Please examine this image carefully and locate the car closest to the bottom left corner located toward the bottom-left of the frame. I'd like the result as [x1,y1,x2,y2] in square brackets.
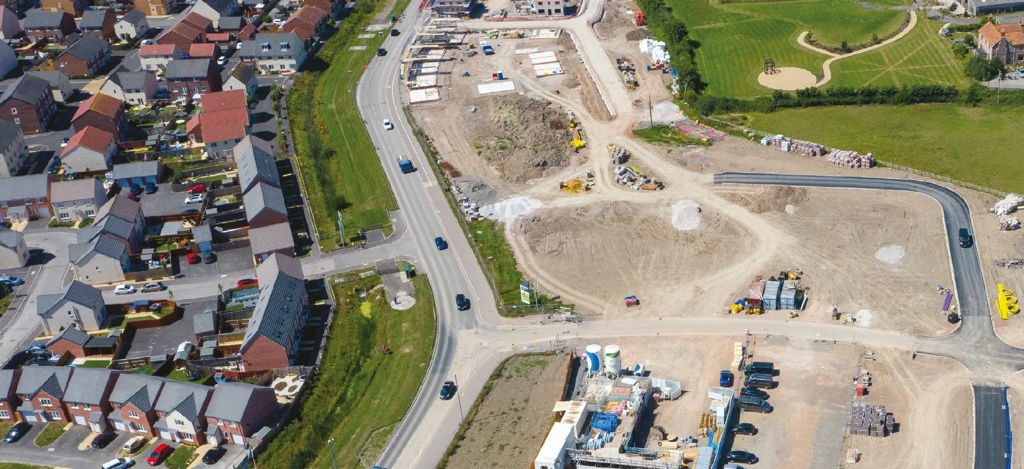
[3,418,33,440]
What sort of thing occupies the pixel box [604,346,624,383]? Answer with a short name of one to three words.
silo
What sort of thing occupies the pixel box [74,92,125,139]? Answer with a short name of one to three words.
house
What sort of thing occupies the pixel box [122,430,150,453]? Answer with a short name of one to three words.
car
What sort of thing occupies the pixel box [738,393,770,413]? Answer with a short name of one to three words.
vehicle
